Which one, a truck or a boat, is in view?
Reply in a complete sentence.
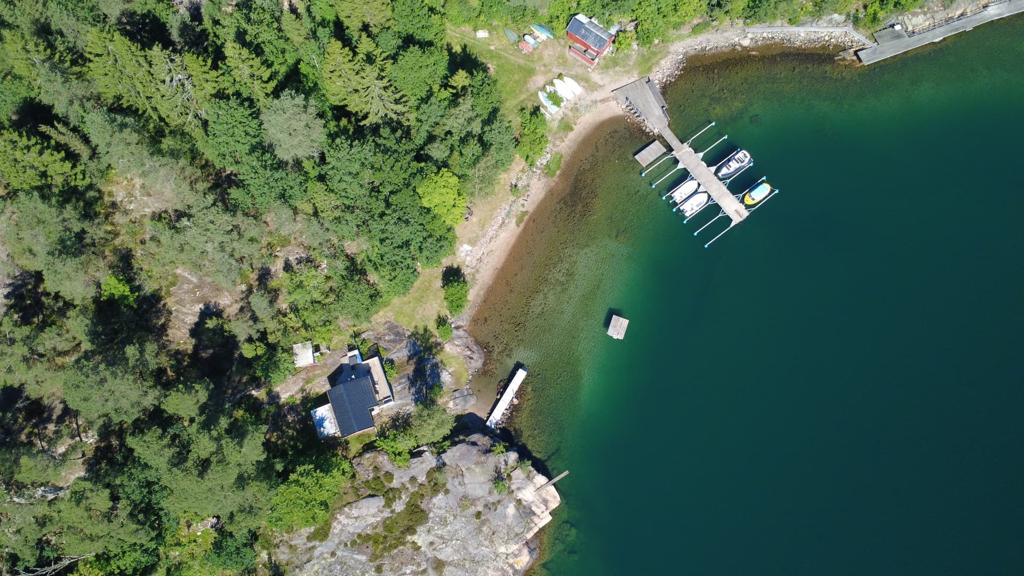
There is a boat in the scene.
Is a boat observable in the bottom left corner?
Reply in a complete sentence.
No, no boat appears in the bottom left corner.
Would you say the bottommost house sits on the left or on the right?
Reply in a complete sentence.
The bottommost house appears in the left half of the scene.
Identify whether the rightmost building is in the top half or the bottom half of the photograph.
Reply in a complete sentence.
Seen from above, the rightmost building lies in the top half of the view.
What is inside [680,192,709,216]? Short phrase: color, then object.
white boat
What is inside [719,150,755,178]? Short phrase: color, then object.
white boat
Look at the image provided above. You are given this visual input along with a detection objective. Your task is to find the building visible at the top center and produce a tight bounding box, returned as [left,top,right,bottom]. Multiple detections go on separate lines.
[567,11,615,71]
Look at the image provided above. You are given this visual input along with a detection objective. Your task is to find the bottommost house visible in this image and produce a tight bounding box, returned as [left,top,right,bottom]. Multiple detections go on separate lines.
[312,375,379,437]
